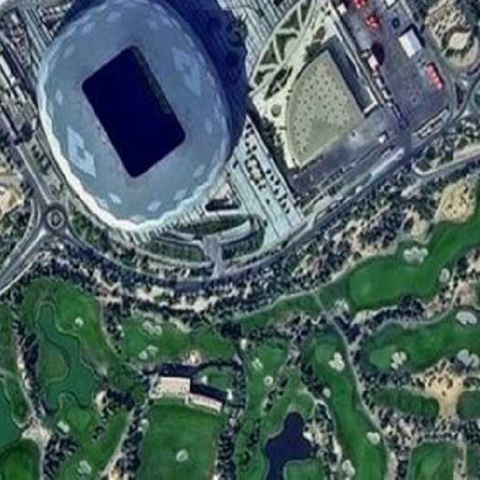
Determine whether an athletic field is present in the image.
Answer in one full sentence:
Yes, looking at the shot, I can spot an athletic field.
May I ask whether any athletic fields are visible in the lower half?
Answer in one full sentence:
No, in the lower half there is no athletic field.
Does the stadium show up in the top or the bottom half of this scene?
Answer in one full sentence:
The stadium sits in the top half of the picture.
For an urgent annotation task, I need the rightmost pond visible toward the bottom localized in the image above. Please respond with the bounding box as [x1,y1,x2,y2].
[266,412,315,480]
